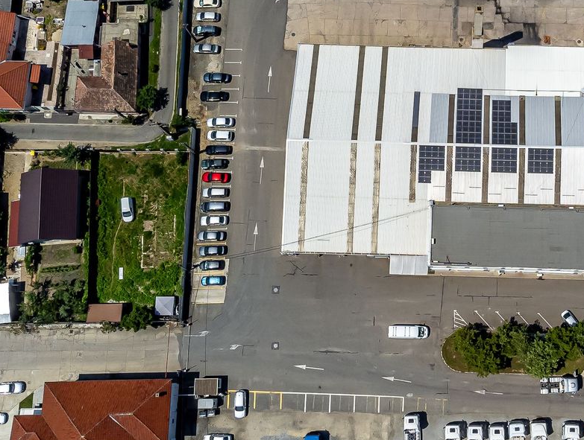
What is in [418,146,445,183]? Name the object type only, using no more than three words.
solar array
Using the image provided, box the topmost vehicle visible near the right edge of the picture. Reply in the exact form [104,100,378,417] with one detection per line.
[559,307,579,328]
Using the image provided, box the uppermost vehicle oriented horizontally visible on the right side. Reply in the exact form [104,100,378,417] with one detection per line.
[392,323,425,339]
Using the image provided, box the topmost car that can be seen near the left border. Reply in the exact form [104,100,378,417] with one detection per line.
[0,380,26,395]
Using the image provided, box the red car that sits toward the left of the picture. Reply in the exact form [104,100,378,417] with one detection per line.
[204,171,231,184]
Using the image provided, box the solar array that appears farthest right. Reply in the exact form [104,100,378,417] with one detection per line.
[527,149,553,173]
